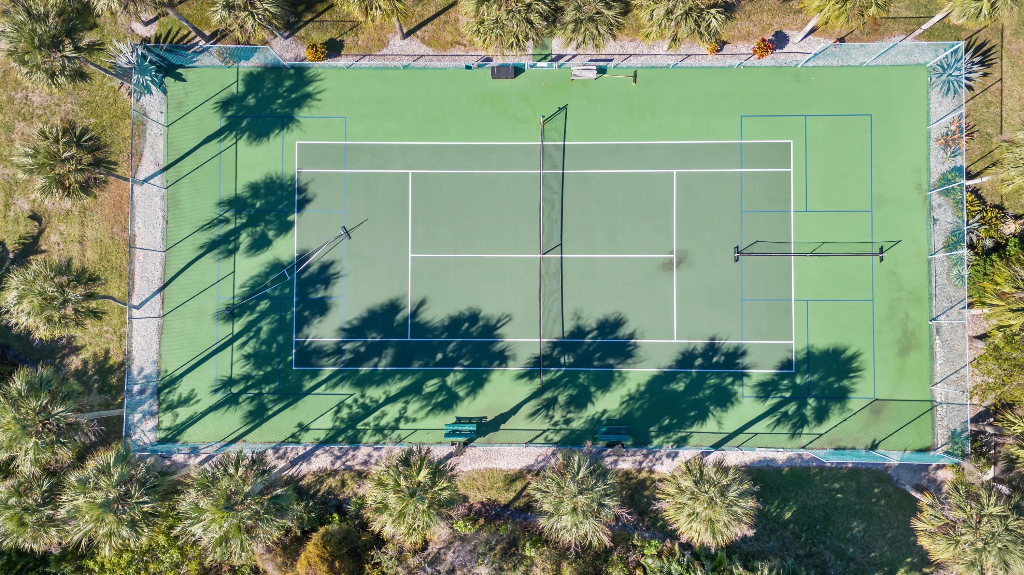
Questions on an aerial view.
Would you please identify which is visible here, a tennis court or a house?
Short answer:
tennis court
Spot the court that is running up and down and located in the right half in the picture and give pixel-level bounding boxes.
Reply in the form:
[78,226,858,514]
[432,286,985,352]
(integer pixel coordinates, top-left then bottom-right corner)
[742,115,874,400]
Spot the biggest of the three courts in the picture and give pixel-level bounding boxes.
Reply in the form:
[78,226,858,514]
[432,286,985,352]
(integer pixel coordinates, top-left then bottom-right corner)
[157,61,938,453]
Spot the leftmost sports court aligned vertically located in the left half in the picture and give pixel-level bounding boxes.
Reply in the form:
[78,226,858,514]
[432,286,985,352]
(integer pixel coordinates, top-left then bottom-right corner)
[216,117,346,395]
